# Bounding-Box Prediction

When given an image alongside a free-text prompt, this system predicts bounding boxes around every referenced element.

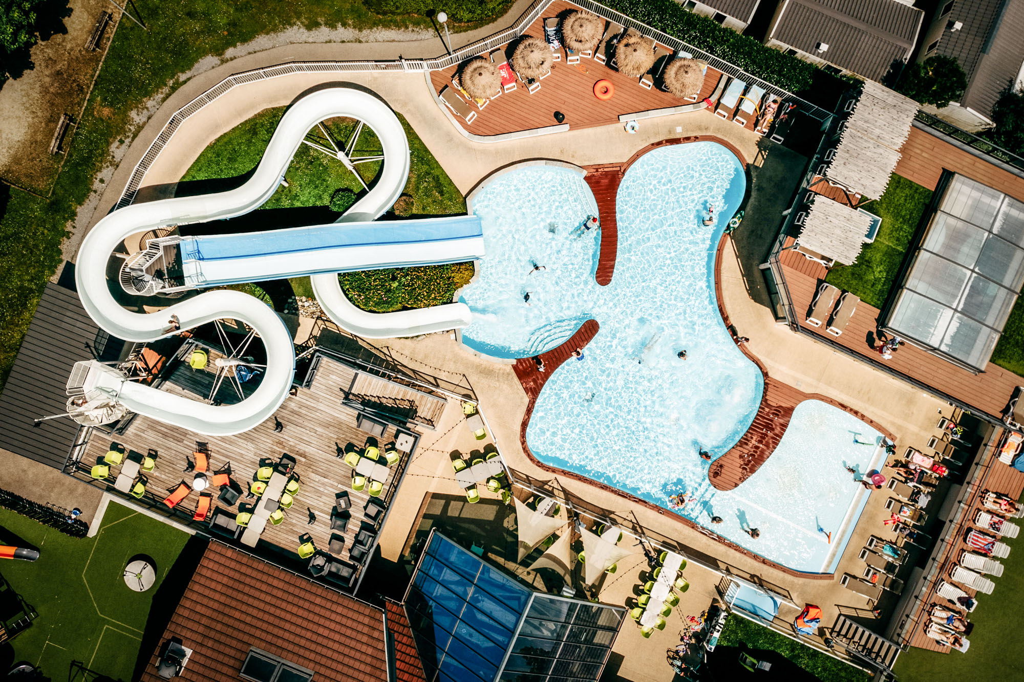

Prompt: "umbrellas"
[609,35,655,82]
[557,12,603,59]
[659,57,704,104]
[458,59,504,106]
[508,37,555,83]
